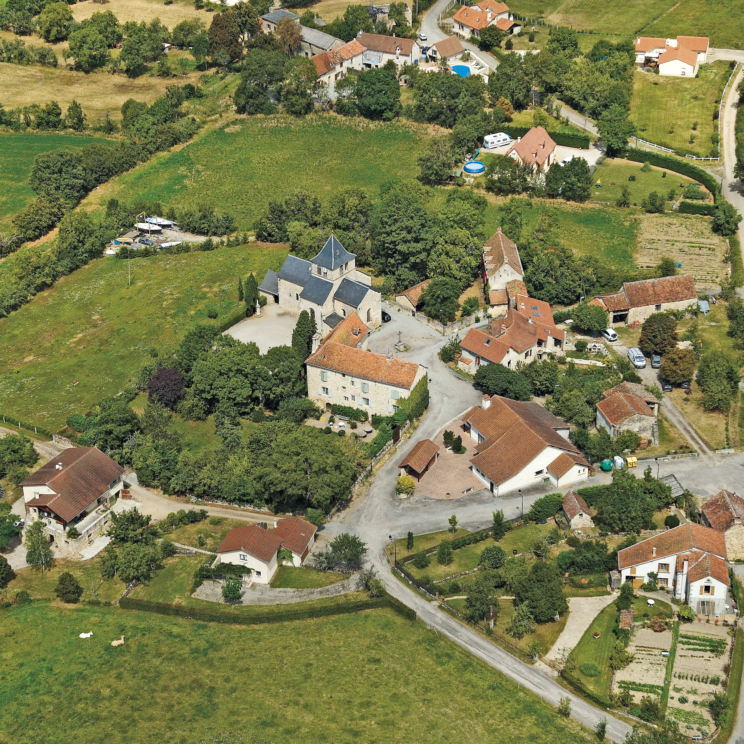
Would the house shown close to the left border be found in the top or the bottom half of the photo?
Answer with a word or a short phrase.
bottom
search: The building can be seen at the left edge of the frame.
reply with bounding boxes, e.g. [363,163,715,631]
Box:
[11,445,138,557]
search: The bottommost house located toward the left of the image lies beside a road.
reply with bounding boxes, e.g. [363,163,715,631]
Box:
[215,514,318,584]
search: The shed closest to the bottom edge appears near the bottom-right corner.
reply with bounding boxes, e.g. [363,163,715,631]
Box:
[616,606,638,628]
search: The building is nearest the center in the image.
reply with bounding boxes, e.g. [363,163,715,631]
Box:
[305,310,428,425]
